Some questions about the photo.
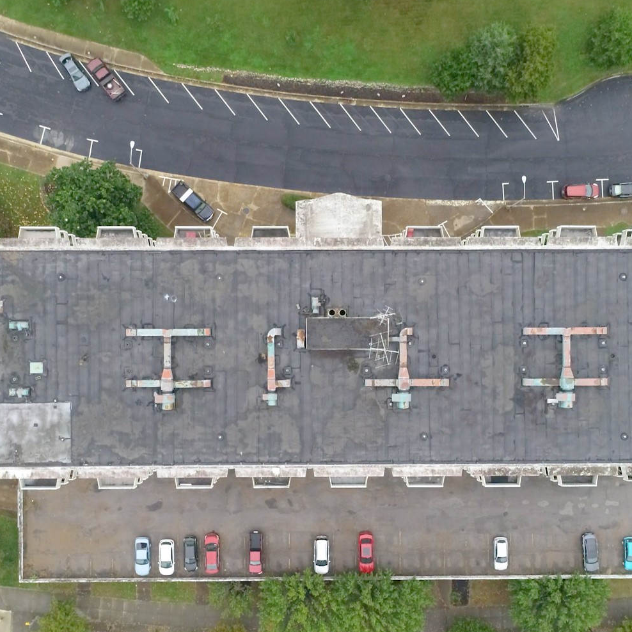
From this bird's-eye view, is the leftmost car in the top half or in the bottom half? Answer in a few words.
top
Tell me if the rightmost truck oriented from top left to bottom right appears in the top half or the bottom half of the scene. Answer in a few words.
top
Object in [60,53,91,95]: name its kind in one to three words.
car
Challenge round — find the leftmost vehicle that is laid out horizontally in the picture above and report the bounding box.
[561,181,598,199]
